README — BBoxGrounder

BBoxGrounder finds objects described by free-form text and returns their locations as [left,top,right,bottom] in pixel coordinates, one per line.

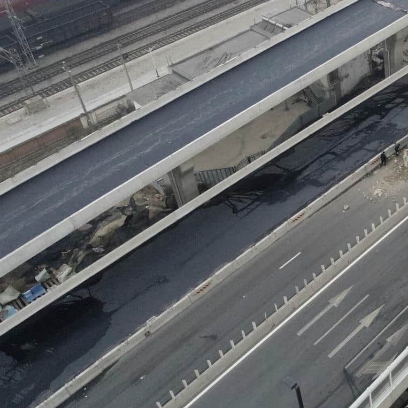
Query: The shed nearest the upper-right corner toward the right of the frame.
[273,5,316,27]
